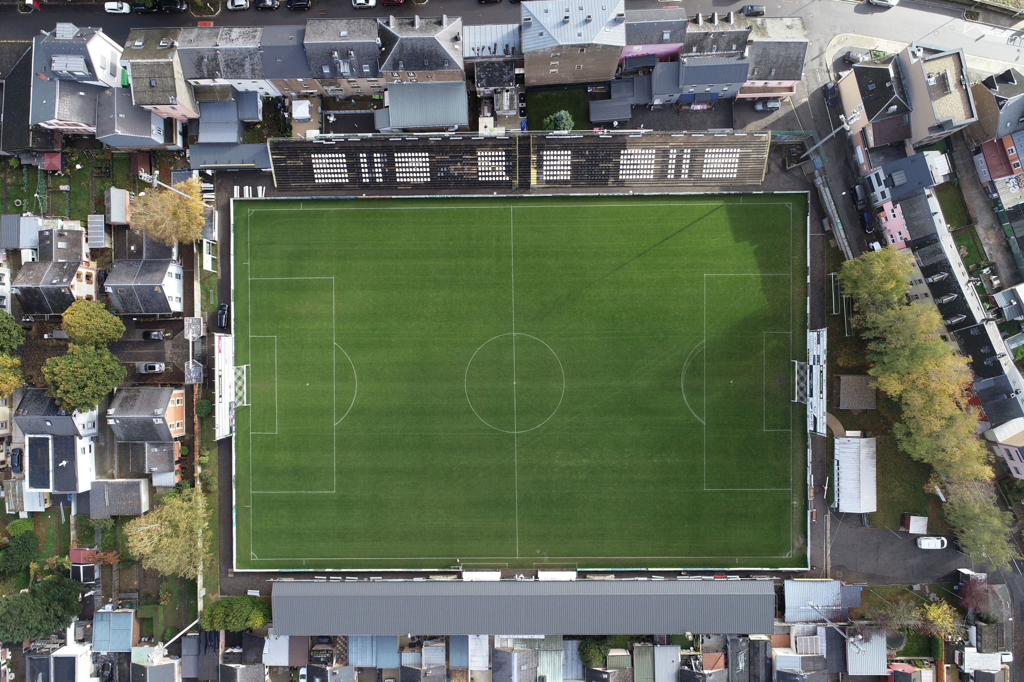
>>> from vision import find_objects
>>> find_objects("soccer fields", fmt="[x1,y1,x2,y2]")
[233,192,808,570]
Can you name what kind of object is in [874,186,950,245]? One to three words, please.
house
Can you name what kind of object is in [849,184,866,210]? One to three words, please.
car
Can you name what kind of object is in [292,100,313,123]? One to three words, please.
tent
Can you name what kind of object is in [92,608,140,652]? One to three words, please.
building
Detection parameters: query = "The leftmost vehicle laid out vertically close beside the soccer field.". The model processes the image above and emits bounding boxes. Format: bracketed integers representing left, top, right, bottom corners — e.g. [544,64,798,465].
[217,303,230,329]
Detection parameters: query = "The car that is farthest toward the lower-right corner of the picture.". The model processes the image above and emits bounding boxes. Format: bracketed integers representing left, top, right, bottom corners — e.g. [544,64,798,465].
[998,650,1016,663]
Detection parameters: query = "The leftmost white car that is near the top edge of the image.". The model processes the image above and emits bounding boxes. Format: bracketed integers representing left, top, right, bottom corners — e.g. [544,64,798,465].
[106,1,130,14]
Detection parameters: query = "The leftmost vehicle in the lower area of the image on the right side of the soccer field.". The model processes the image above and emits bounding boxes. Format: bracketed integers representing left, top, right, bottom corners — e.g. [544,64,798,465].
[916,537,946,550]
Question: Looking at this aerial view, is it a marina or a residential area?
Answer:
residential area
